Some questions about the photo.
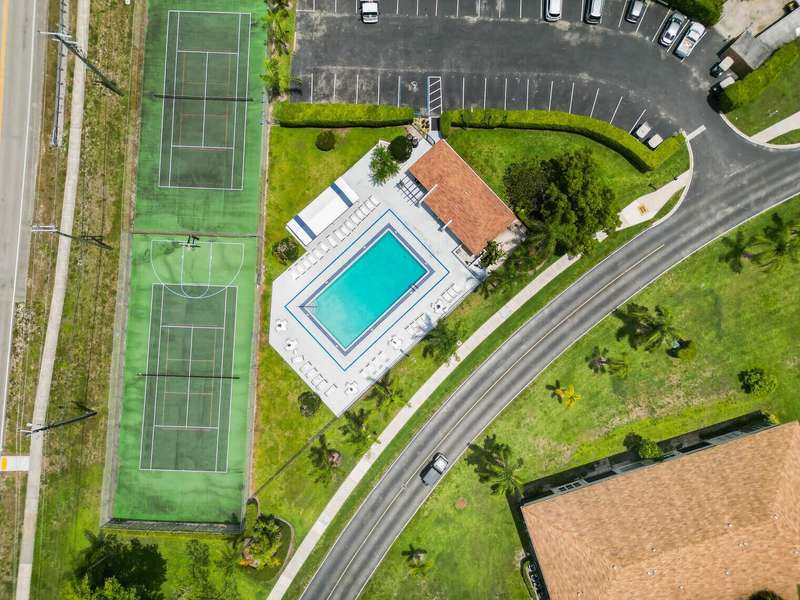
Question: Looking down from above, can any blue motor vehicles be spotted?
No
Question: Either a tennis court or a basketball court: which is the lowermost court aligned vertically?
tennis court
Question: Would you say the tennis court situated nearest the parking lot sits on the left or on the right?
left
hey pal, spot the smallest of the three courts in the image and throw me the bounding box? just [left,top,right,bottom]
[149,240,245,299]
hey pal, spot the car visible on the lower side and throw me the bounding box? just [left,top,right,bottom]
[420,457,449,488]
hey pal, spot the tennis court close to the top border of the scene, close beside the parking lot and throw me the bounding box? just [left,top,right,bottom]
[132,0,267,237]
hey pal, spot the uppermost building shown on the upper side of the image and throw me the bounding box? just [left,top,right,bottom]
[720,2,800,77]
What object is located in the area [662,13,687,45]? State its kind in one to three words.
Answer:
car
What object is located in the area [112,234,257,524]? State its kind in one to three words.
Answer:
tennis court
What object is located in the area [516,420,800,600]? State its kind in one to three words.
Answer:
building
